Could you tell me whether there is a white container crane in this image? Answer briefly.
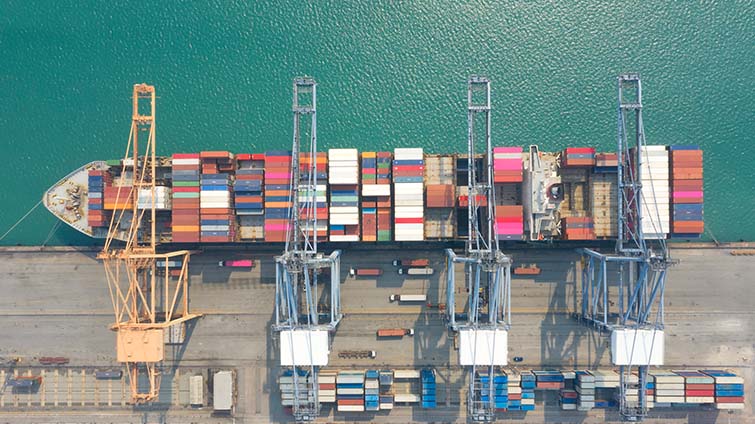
Yes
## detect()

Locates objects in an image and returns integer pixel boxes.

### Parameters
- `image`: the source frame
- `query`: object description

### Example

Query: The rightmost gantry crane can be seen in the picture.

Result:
[565,74,681,418]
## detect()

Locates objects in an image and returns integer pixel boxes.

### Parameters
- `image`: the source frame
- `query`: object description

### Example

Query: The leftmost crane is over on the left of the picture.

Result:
[96,83,212,403]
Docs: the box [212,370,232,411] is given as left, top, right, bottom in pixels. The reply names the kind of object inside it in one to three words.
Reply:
shed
